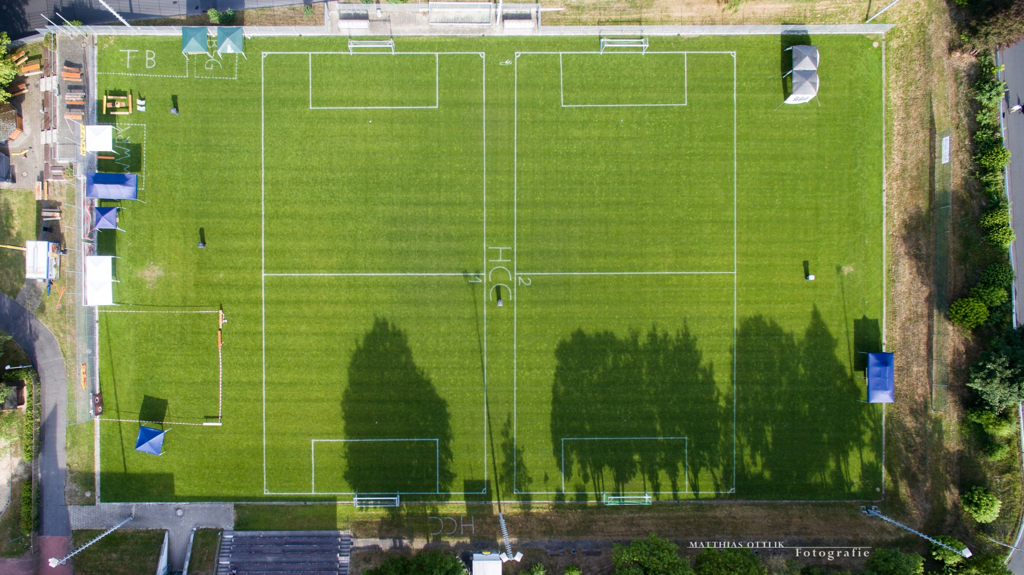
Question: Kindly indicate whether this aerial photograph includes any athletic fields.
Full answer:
Yes, the image includes an athletic field.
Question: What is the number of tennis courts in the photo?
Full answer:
Not a single tennis court can be seen.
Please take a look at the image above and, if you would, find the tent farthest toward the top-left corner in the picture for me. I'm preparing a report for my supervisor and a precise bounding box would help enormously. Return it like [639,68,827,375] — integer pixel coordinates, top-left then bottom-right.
[86,125,122,156]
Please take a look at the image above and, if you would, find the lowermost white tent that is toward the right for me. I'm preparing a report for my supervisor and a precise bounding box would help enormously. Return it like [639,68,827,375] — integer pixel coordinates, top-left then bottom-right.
[780,70,821,106]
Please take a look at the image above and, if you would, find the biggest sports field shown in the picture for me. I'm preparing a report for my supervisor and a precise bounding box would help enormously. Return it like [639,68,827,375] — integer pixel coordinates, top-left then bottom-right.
[95,33,885,535]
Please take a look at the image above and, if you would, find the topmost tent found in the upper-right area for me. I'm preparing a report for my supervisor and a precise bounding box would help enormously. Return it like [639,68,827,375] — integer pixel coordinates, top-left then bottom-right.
[782,45,820,77]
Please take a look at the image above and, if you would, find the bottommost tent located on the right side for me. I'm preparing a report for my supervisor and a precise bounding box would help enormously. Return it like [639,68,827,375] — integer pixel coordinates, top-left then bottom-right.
[856,352,894,403]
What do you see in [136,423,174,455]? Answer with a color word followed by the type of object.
blue tent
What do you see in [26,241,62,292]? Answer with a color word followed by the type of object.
white trailer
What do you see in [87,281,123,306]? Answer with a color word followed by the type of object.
white tent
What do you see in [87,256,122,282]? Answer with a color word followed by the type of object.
white tent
